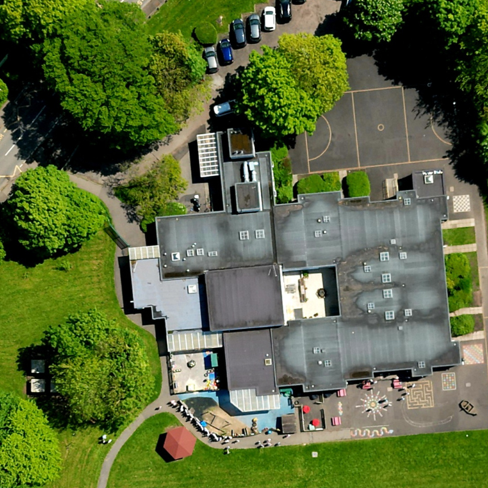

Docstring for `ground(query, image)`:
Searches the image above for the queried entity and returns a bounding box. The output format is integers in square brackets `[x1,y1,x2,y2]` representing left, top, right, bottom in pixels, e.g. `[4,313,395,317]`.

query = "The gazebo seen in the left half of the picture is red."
[163,426,197,459]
